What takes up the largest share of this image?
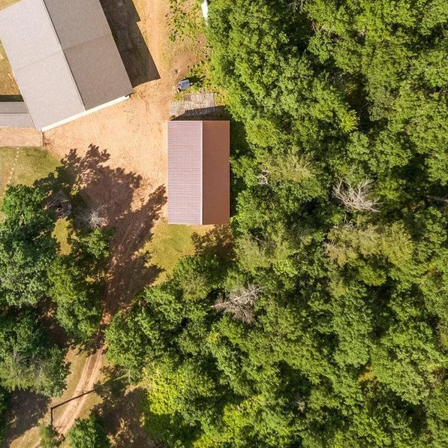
trees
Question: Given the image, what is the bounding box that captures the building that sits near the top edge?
[0,0,134,134]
